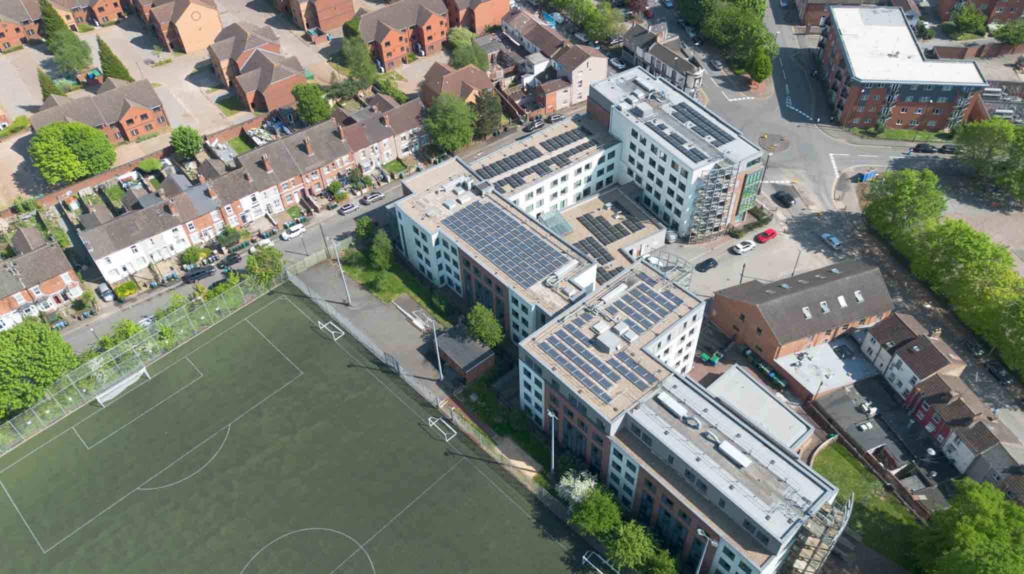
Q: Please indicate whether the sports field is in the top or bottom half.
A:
bottom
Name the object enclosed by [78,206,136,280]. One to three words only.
house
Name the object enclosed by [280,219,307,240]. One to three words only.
vehicle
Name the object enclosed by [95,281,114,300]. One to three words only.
car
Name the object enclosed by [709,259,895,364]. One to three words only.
building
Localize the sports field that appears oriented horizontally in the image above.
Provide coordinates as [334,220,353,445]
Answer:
[0,283,601,574]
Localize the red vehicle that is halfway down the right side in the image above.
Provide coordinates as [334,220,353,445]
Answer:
[755,225,778,240]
